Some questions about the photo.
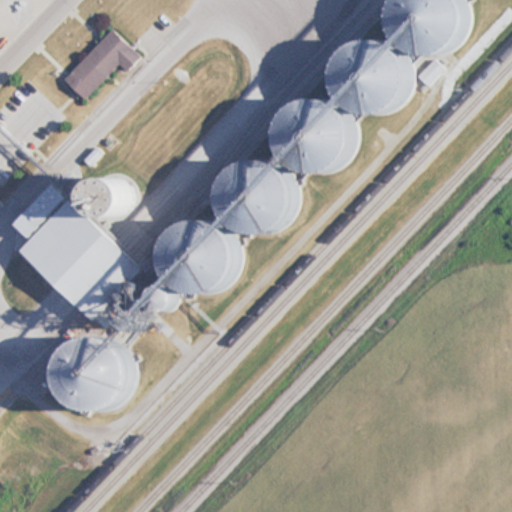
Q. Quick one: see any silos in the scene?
Yes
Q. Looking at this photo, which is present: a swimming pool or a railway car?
railway car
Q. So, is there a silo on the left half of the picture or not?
Yes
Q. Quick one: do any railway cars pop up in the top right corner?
Yes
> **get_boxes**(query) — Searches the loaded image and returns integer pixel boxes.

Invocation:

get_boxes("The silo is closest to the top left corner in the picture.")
[70,174,142,220]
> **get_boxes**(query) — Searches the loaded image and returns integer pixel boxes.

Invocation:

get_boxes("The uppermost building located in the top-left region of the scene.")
[64,30,141,99]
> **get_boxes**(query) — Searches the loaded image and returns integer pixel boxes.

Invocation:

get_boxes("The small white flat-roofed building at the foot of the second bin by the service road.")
[419,61,447,86]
